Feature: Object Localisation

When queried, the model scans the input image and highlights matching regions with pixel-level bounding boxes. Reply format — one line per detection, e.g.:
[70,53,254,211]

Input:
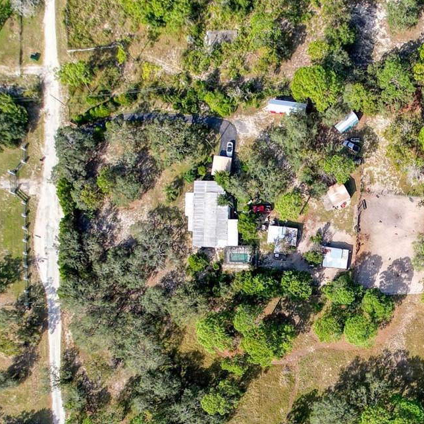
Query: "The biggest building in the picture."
[185,180,240,249]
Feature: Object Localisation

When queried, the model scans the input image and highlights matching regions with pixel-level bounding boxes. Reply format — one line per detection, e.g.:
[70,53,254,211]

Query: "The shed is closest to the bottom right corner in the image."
[323,247,349,270]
